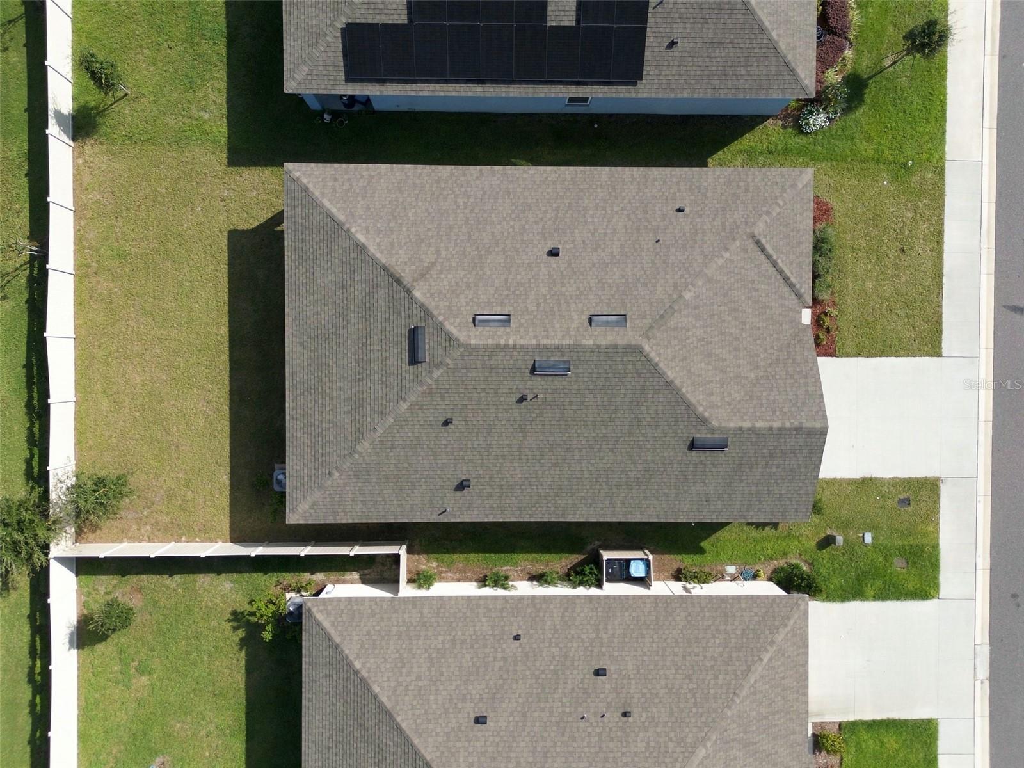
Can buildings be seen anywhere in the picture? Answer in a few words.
Yes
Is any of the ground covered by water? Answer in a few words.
No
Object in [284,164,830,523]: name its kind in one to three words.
house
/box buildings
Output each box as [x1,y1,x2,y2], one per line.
[303,581,809,768]
[284,164,830,523]
[284,0,815,114]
